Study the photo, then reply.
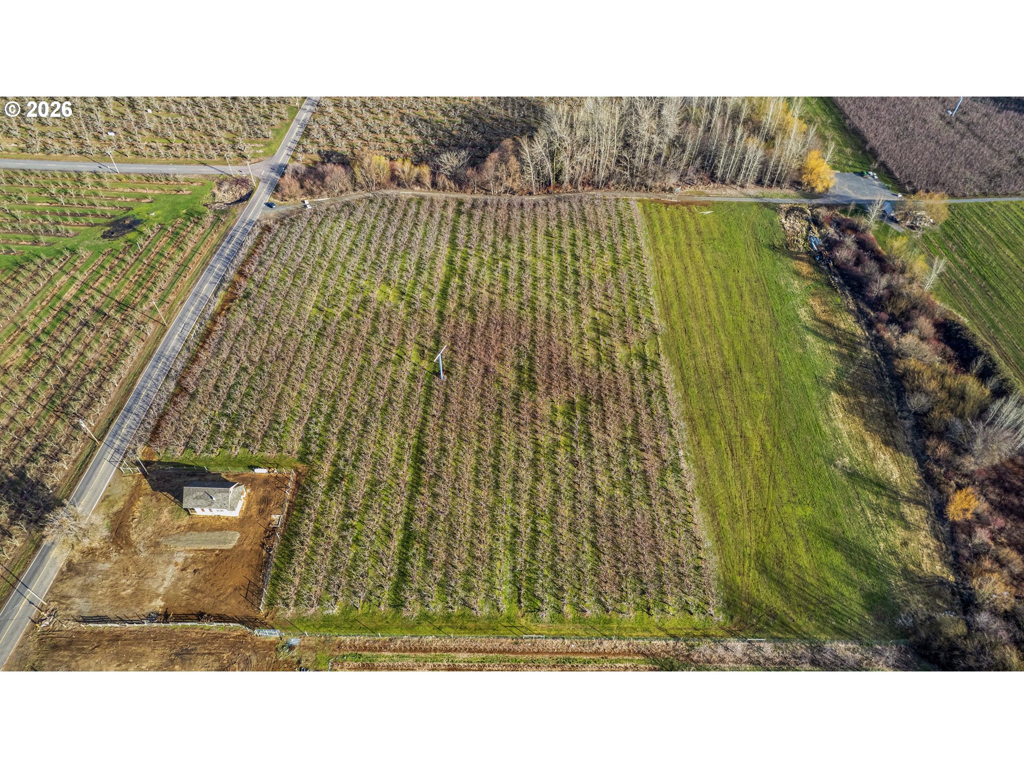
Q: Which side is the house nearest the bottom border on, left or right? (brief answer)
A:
left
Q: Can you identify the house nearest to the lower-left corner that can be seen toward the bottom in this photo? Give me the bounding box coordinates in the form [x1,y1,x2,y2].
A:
[182,479,251,516]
